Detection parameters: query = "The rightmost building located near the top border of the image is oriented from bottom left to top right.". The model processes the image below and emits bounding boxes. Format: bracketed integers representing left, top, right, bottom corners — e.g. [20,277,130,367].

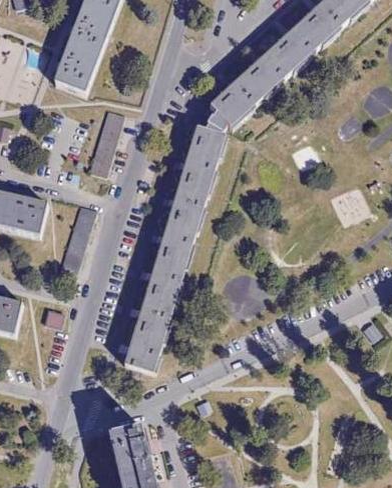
[211,0,379,135]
